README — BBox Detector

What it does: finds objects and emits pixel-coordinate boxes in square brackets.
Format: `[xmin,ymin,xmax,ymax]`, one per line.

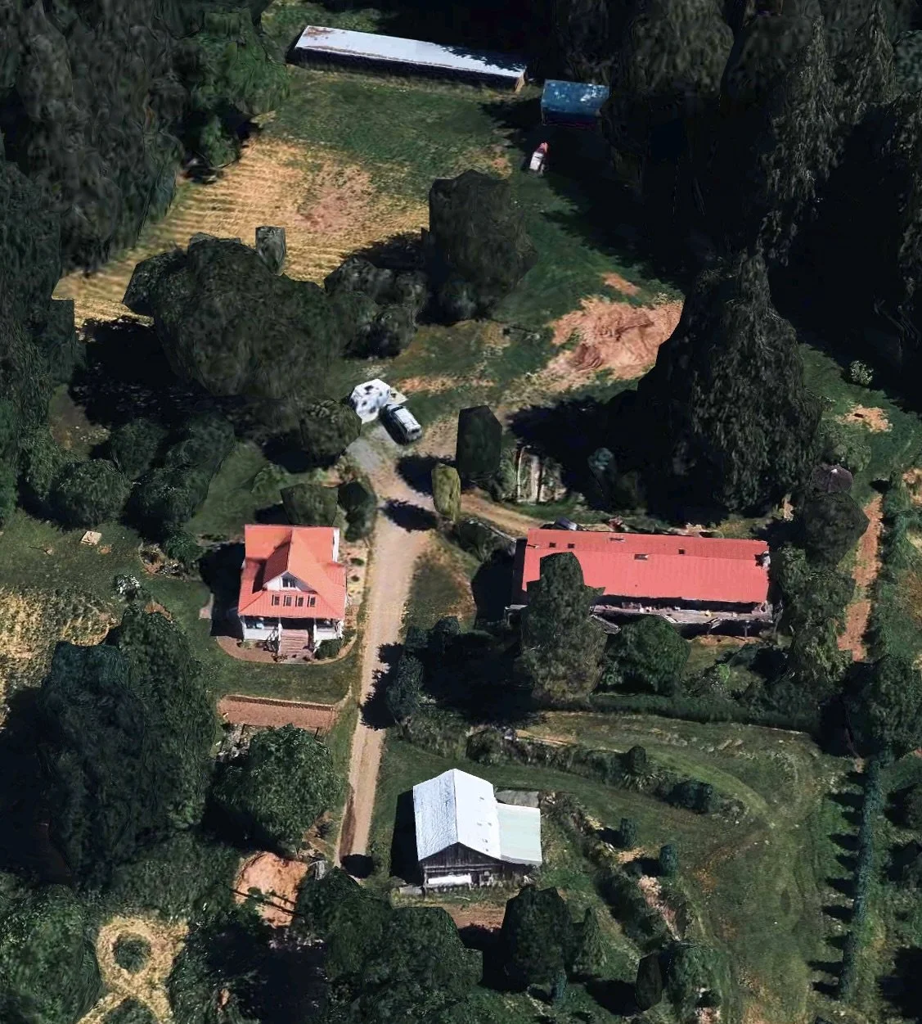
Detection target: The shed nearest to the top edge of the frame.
[295,24,528,96]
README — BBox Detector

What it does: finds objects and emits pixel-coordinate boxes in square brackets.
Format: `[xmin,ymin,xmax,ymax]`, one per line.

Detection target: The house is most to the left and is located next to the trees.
[237,530,352,657]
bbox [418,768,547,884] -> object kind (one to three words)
barn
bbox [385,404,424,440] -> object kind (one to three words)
car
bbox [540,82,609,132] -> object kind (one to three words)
shed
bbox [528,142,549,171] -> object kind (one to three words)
truck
